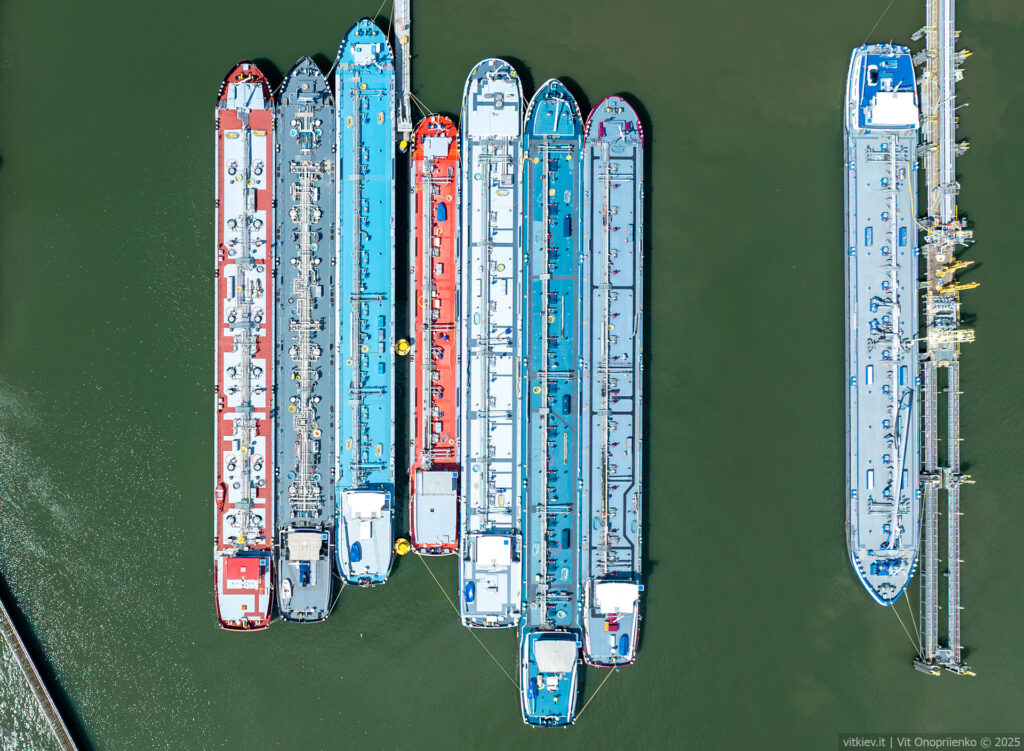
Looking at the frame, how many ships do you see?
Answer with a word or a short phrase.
8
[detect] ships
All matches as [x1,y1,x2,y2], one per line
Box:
[460,58,523,629]
[274,55,338,622]
[843,40,922,606]
[335,17,397,586]
[214,60,277,631]
[519,79,584,728]
[410,114,461,556]
[581,96,644,666]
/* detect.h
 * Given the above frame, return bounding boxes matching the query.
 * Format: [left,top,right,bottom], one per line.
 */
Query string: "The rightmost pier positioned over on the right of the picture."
[919,0,966,668]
